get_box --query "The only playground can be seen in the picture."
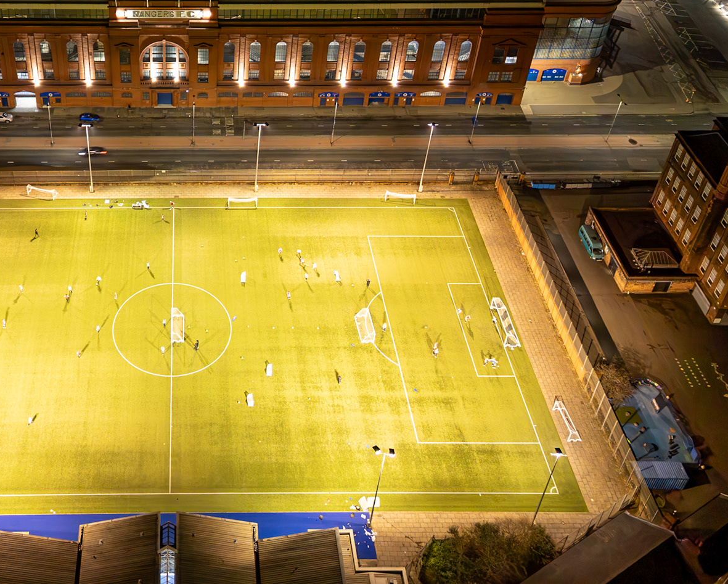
[611,405,646,428]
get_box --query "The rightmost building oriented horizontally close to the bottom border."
[528,508,697,584]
